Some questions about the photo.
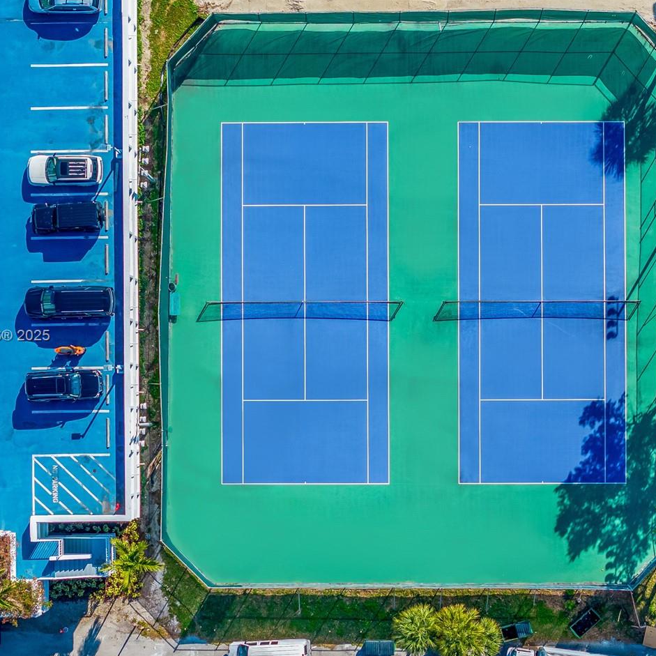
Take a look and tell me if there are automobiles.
Yes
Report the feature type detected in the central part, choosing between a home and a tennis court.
tennis court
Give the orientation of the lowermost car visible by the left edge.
horizontally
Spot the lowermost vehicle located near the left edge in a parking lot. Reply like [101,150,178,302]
[25,366,104,404]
